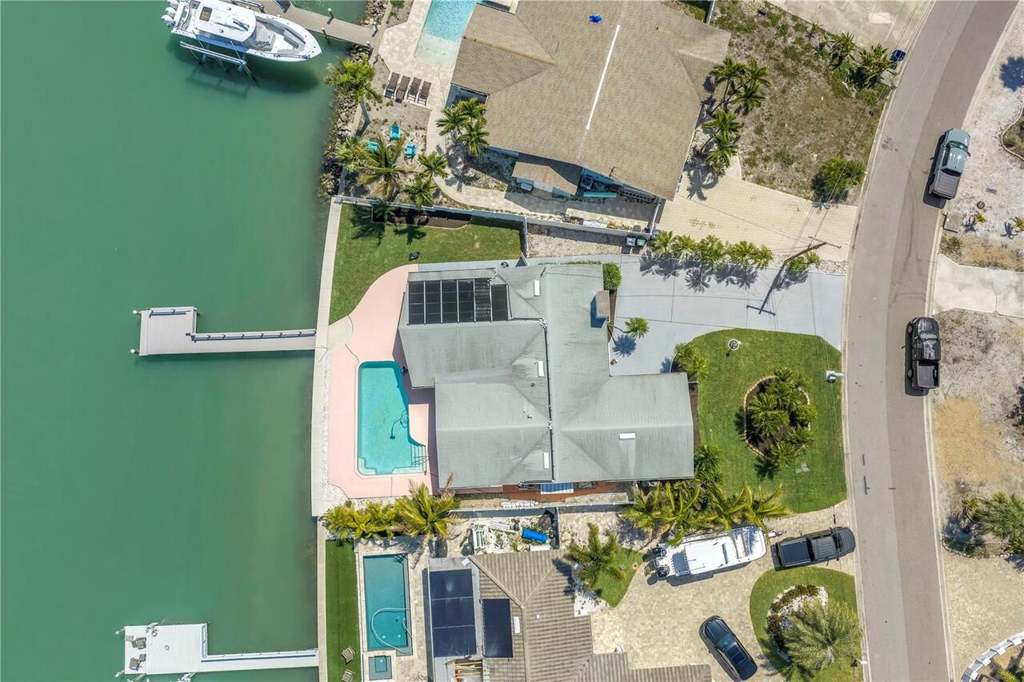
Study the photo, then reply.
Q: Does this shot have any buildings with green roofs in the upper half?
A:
No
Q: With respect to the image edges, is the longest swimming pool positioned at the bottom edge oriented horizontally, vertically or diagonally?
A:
vertically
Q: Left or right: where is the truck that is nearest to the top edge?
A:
right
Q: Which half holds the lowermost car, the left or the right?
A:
right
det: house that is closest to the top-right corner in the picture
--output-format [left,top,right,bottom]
[448,0,730,201]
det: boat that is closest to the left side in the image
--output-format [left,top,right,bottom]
[163,0,325,60]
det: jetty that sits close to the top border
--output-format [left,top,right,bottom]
[227,0,381,51]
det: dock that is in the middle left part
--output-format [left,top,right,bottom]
[129,307,317,357]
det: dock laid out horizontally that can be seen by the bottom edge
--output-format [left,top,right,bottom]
[112,618,319,678]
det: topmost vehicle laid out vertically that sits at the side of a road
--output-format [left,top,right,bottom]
[926,126,969,203]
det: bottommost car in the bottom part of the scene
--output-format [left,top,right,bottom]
[703,613,757,682]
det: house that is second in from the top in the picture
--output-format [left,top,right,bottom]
[399,265,693,495]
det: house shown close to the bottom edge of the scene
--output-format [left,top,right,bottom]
[427,549,714,682]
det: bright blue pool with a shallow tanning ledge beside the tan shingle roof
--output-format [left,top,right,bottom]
[411,0,477,68]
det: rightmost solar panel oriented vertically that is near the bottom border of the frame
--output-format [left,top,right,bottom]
[484,599,513,659]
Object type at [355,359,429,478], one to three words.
swimming pool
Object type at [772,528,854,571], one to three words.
truck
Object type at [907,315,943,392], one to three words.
truck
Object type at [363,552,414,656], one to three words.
swimming pool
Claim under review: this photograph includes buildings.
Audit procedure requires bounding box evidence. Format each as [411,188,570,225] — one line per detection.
[399,265,693,495]
[448,0,730,201]
[427,549,714,682]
